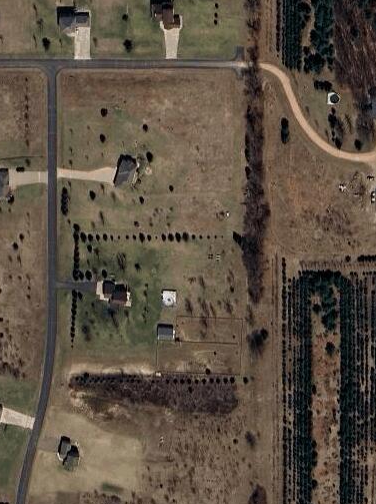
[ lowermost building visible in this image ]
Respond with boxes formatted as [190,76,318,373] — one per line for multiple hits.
[57,439,82,469]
